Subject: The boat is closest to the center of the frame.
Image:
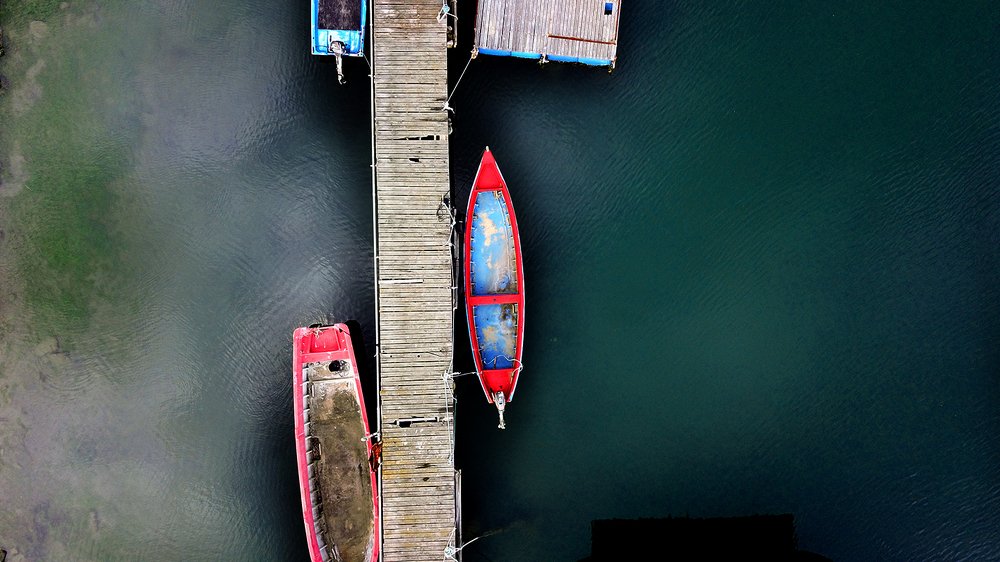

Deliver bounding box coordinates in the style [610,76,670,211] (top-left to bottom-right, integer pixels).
[464,148,525,430]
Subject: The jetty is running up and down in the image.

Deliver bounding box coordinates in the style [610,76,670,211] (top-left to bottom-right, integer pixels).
[369,0,462,562]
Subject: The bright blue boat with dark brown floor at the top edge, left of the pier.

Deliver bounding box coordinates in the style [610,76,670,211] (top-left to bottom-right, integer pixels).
[311,0,368,83]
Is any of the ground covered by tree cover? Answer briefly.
No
